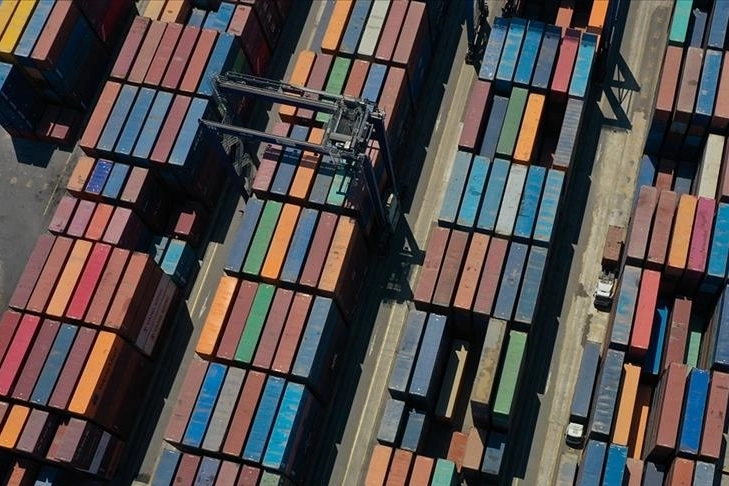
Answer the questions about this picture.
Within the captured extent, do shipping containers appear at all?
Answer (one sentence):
Yes, the picture does show a shipping container.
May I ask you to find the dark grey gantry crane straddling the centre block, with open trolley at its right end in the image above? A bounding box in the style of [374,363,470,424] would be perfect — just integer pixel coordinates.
[196,74,406,246]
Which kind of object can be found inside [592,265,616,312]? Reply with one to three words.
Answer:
truck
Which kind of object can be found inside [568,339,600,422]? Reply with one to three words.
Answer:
shipping container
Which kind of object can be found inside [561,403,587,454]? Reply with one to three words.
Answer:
truck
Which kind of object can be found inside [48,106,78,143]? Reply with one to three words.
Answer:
shipping container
